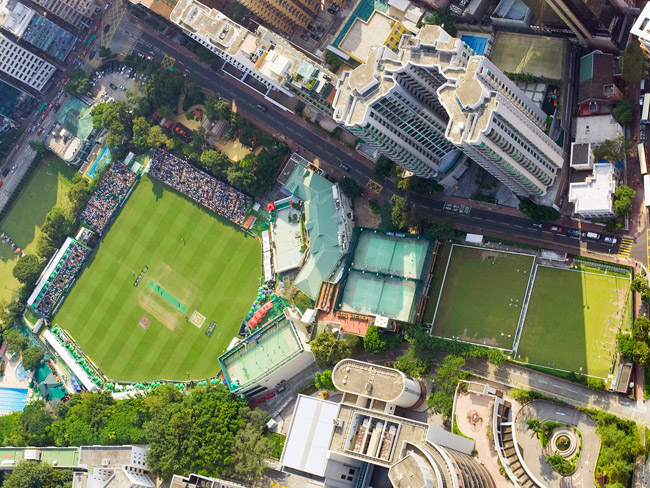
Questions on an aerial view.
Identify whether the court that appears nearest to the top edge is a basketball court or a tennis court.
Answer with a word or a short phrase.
tennis court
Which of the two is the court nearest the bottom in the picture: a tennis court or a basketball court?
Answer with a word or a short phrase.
tennis court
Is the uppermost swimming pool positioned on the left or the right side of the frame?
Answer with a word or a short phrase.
right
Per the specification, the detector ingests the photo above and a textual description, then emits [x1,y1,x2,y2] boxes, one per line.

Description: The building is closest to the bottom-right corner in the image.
[616,366,636,394]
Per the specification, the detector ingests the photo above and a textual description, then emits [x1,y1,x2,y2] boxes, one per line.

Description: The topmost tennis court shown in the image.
[489,29,569,79]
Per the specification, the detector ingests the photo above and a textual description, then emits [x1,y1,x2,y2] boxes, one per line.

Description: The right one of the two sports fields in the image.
[49,177,264,385]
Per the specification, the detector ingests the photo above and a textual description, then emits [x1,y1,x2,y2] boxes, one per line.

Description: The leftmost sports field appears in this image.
[0,164,74,320]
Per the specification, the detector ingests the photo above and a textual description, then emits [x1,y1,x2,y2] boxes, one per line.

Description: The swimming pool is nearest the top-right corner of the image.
[458,32,491,56]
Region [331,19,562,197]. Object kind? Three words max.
building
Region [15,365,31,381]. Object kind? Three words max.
swimming pool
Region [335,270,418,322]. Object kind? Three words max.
tennis court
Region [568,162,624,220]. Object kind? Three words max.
house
